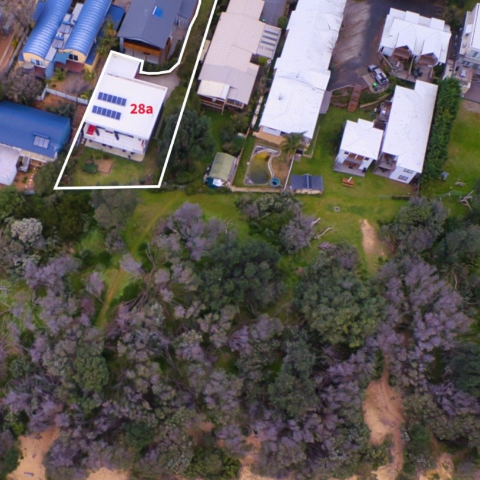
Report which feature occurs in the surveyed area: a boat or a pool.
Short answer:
pool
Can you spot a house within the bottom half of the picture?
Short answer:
No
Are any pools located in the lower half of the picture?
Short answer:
No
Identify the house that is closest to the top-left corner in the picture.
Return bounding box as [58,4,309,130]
[19,0,126,87]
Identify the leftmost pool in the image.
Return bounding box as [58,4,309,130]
[244,145,280,185]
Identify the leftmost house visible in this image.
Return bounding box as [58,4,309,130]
[0,104,71,186]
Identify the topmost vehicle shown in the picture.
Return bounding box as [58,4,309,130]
[366,65,392,84]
